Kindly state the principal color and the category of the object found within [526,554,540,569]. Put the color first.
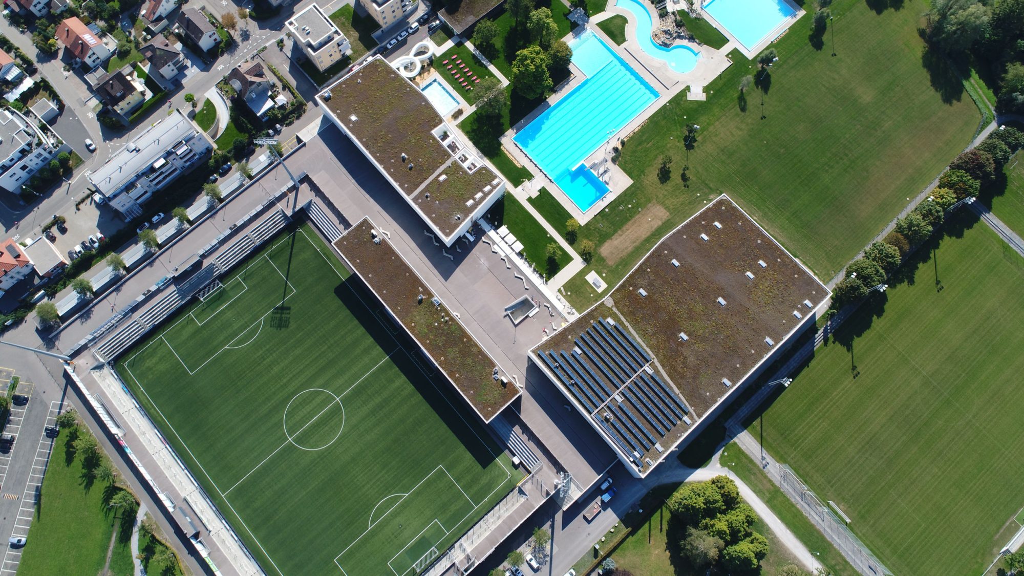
white car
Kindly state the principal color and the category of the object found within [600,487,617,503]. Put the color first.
blue vehicle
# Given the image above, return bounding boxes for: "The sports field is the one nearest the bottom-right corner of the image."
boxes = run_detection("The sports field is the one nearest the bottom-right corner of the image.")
[738,221,1024,576]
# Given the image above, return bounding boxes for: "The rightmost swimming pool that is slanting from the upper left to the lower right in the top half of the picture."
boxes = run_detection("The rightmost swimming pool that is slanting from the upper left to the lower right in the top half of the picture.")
[614,0,699,74]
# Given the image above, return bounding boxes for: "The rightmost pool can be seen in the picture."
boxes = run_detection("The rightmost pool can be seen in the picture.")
[701,0,798,51]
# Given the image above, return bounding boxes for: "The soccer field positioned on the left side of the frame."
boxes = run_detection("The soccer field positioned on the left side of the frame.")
[111,216,527,576]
